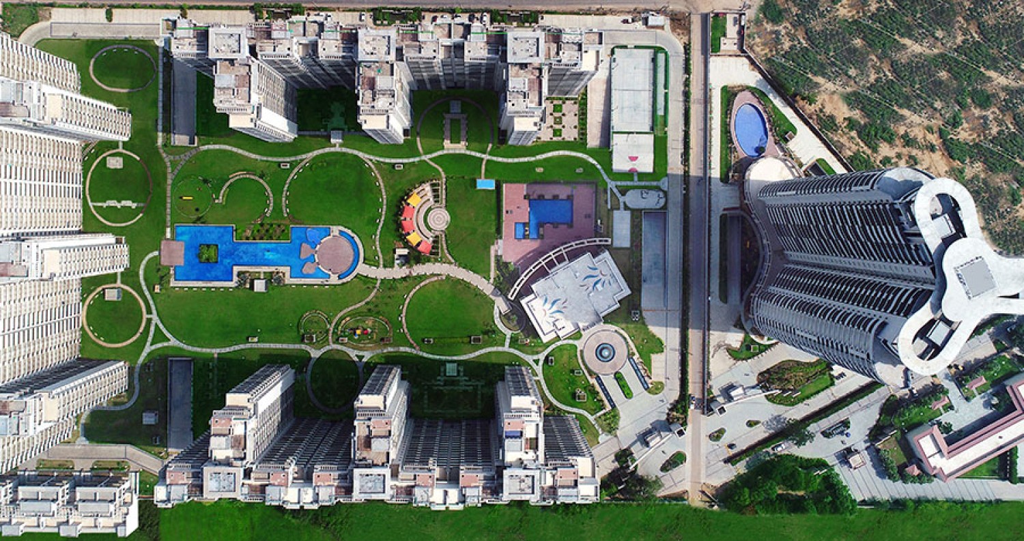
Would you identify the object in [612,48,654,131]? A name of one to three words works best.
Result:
sports court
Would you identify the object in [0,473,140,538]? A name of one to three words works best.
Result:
building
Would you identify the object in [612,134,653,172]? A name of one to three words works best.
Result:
sports court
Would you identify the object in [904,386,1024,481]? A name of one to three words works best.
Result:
house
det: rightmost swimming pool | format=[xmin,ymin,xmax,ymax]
[731,91,776,161]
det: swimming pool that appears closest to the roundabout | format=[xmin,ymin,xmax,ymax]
[502,182,598,270]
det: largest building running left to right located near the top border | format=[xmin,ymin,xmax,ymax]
[170,17,606,147]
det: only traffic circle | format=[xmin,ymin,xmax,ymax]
[578,325,632,376]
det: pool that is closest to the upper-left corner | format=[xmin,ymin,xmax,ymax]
[160,224,365,286]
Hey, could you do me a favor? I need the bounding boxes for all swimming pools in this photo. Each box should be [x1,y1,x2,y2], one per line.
[502,182,598,270]
[160,224,365,286]
[731,91,776,161]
